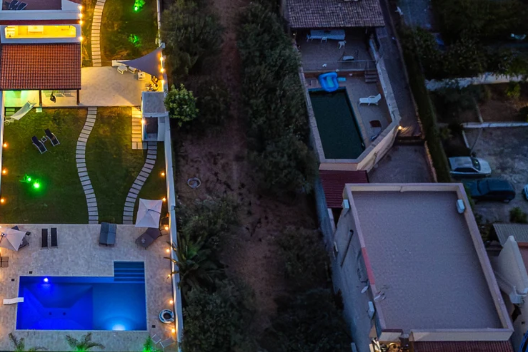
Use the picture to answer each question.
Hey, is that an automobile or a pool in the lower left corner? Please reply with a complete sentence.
Looking in the lower left corner, you will find a pool.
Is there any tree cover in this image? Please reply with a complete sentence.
Yes, some tree cover is visible.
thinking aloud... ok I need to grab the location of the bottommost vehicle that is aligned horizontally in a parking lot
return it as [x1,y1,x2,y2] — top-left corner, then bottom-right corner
[464,177,519,203]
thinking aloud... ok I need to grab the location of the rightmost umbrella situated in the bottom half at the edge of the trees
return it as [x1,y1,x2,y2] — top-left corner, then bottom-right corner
[135,199,170,231]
